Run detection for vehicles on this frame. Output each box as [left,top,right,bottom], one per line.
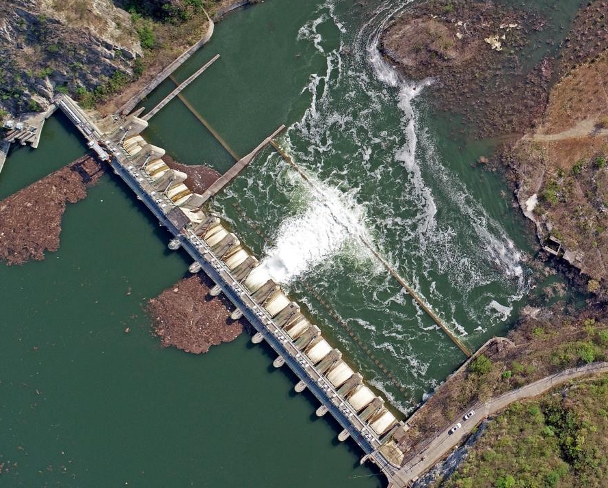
[451,422,463,433]
[463,411,475,420]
